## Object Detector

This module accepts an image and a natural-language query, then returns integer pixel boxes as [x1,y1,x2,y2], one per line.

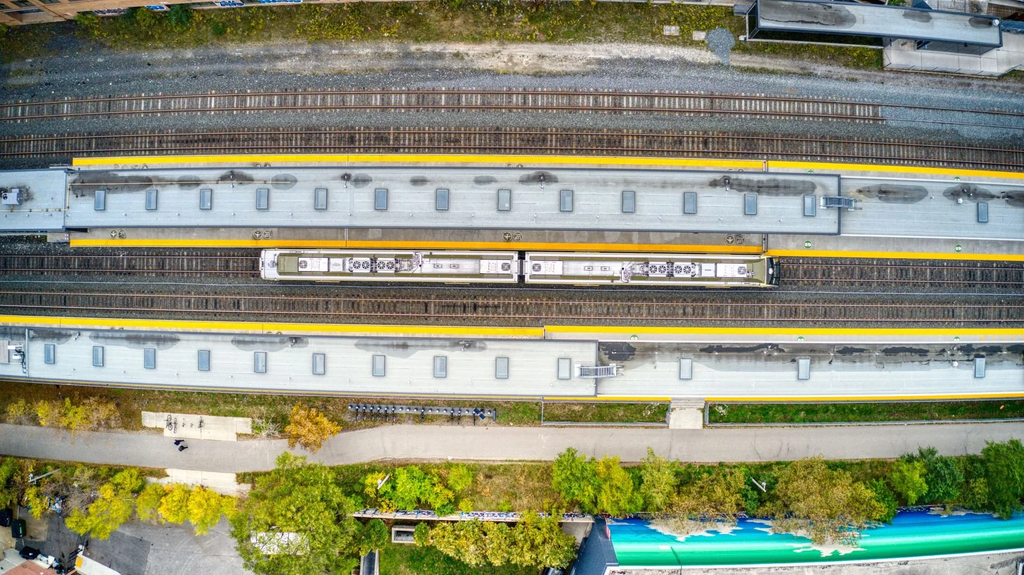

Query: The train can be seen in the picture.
[261,250,781,288]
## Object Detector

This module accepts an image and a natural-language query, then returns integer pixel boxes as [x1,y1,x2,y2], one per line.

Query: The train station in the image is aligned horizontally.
[0,153,1024,410]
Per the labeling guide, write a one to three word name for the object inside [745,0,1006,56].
building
